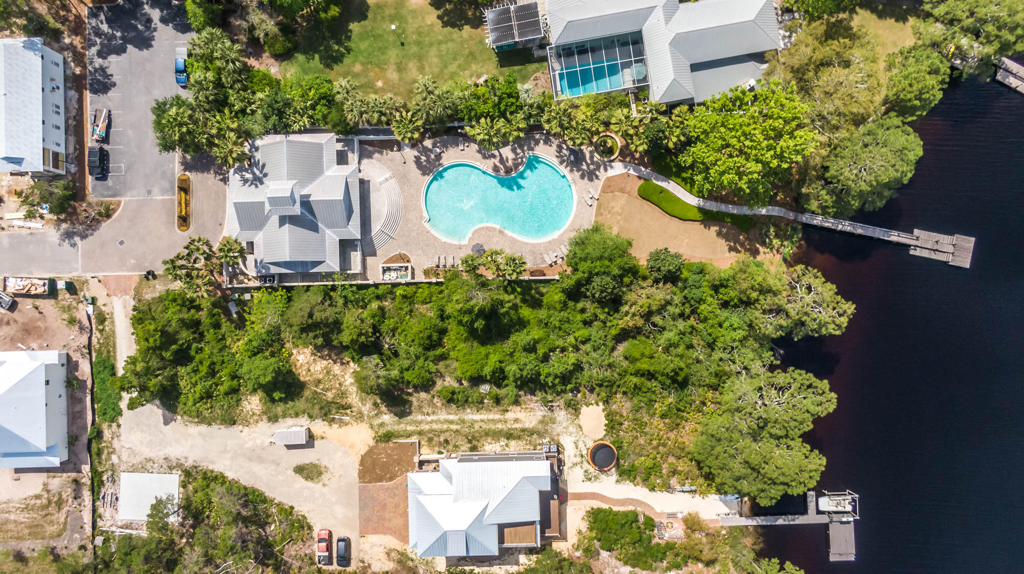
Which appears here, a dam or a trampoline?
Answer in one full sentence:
Visible in the photo is a trampoline.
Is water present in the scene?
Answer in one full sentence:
Yes, water can be seen from above here.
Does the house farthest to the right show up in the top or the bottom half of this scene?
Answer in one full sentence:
The top half of the photo is where the house farthest to the right is.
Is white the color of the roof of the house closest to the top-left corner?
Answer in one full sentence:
Yes, the roof of the house closest to the top-left corner is indeed white.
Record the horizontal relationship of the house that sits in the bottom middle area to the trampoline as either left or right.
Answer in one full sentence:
From the viewer's perspective, the house that sits in the bottom middle area falls to the left of the trampoline.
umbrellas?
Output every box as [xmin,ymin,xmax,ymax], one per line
[567,148,580,162]
[471,242,485,257]
[628,61,648,81]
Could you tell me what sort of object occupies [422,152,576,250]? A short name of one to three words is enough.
swimming pool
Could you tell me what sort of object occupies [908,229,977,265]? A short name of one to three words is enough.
pier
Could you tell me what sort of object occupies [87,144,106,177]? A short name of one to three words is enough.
car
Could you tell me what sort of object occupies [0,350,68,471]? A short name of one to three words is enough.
house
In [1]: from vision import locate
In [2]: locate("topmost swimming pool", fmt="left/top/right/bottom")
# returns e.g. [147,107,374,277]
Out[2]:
[557,60,629,97]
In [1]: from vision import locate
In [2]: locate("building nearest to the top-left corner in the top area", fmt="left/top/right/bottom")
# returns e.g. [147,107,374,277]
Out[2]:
[0,34,64,175]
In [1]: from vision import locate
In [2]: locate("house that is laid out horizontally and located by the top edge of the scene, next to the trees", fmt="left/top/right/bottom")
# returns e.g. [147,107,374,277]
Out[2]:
[545,0,779,102]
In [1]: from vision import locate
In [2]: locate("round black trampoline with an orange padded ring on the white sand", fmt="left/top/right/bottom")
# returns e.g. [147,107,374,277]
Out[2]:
[588,441,617,474]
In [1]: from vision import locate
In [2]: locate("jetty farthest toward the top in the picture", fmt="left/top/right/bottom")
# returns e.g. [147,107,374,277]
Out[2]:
[990,57,1024,94]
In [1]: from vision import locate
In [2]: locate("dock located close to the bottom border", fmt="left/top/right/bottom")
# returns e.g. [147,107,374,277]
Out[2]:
[720,491,858,561]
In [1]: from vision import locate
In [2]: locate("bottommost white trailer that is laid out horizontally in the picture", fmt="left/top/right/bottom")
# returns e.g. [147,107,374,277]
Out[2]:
[271,426,311,445]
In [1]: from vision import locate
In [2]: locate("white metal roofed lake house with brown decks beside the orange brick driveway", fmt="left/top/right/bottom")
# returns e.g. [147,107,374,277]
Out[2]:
[407,452,560,559]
